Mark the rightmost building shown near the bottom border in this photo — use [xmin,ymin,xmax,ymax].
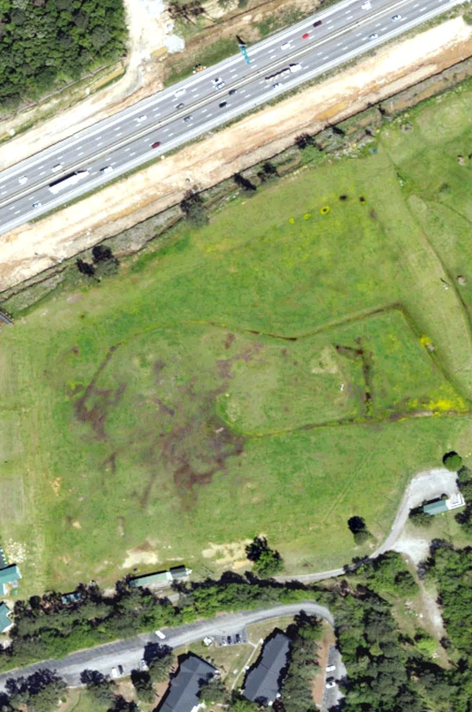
[244,632,295,706]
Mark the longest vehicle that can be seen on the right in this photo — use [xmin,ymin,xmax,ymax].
[269,65,299,83]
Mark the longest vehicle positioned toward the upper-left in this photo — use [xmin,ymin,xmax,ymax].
[53,171,90,192]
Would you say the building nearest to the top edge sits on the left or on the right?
right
